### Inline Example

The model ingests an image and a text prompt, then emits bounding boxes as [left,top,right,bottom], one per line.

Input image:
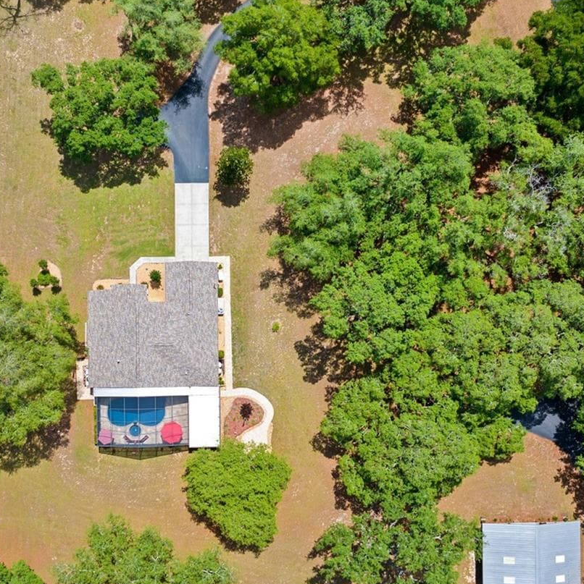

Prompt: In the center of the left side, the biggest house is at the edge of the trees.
[85,260,218,388]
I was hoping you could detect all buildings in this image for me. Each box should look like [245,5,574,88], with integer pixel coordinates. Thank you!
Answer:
[85,260,218,388]
[476,522,582,584]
